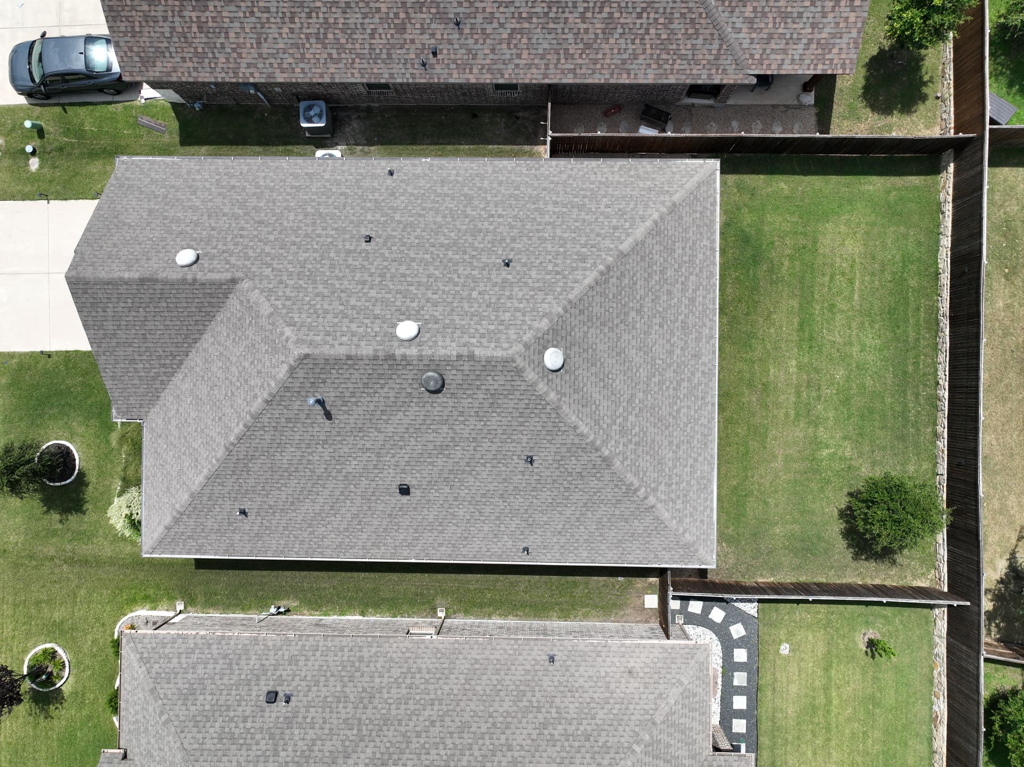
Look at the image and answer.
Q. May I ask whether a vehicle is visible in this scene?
Yes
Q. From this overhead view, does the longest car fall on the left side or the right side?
left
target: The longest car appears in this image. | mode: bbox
[4,32,134,99]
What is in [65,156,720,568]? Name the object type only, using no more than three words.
house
